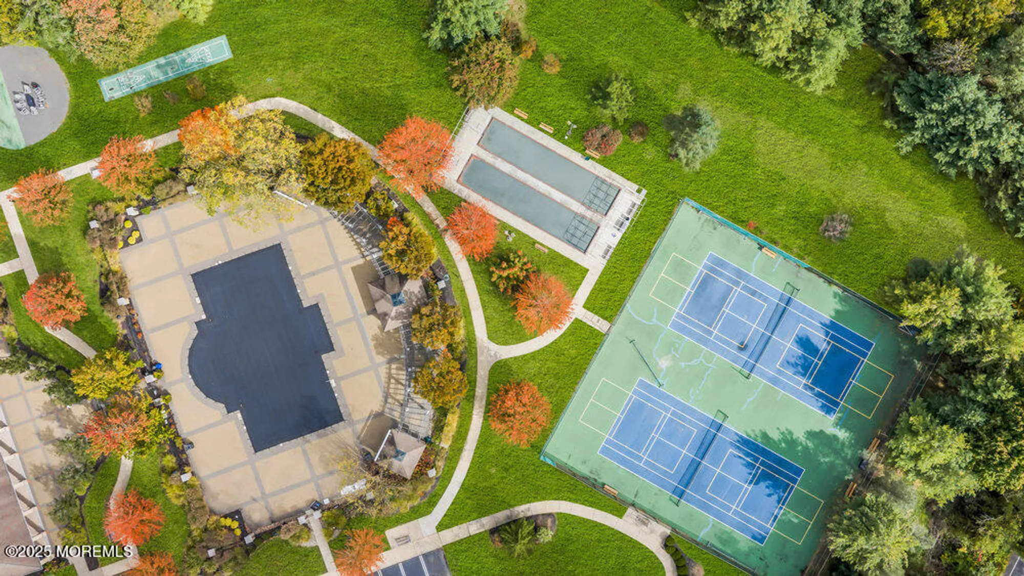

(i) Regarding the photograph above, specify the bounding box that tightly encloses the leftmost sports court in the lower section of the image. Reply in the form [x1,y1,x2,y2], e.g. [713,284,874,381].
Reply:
[580,379,697,474]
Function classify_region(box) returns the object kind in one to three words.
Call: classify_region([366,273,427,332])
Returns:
gazebo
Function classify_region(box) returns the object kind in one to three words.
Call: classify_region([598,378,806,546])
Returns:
tennis court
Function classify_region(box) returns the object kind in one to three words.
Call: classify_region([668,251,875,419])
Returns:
tennis court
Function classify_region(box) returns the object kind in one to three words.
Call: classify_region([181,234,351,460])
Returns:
swimming pool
